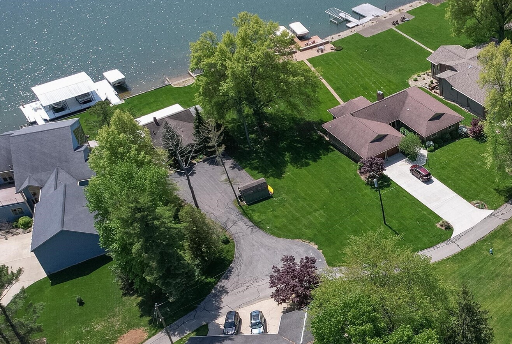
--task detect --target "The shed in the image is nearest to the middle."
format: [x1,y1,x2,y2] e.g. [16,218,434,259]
[236,178,269,206]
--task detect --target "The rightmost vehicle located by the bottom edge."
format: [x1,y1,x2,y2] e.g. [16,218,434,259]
[248,307,265,335]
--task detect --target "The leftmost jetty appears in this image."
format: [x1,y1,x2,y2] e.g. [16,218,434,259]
[19,99,50,125]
